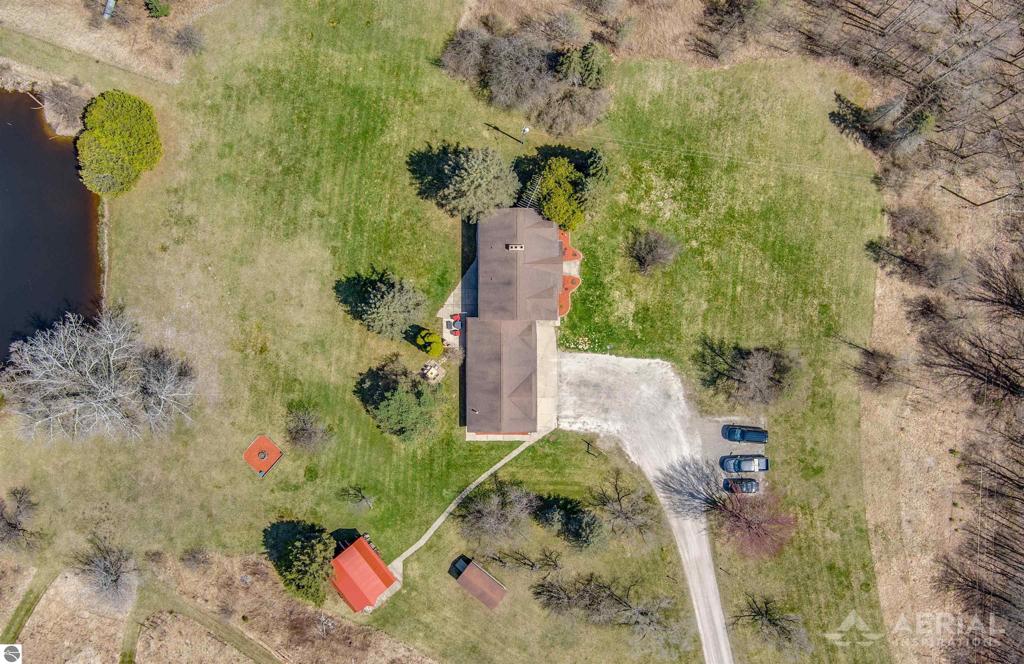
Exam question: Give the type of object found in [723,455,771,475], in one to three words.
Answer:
vehicle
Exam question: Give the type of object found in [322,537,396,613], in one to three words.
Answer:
barn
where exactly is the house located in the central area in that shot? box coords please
[466,207,563,433]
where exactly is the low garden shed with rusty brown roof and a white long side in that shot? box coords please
[453,558,508,609]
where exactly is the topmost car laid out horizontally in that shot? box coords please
[725,426,768,446]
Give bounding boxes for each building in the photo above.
[453,558,508,609]
[466,207,563,433]
[322,537,396,613]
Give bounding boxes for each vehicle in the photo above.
[726,478,760,494]
[723,455,771,475]
[725,426,768,446]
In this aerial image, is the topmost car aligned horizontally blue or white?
blue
